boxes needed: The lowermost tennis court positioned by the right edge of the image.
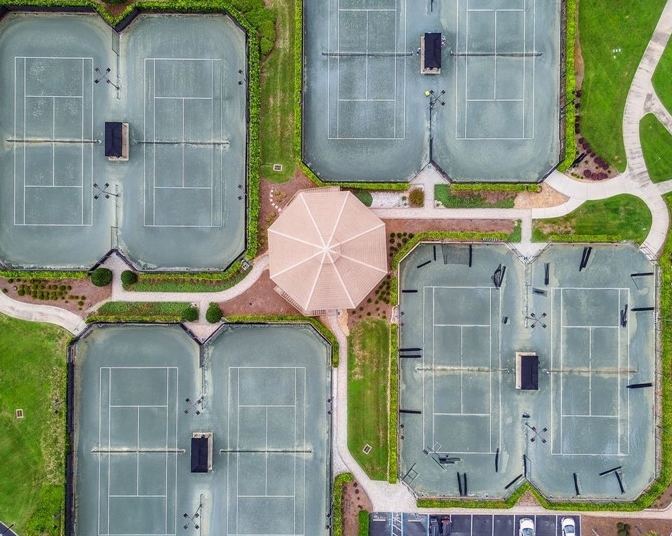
[526,244,655,500]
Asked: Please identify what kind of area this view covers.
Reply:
sports ground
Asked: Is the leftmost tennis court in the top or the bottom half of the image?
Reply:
top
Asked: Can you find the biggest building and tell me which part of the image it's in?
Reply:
center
